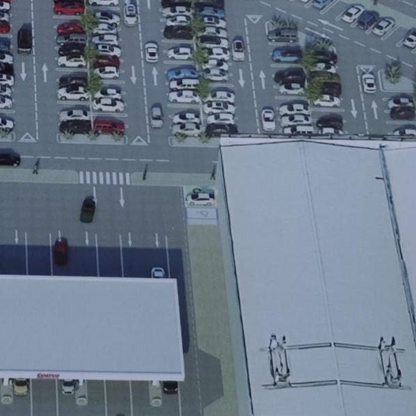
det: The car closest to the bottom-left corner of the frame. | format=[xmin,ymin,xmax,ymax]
[14,377,29,399]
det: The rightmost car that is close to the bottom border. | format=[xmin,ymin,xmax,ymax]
[163,379,178,396]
